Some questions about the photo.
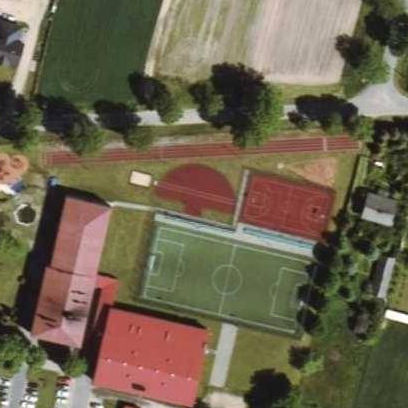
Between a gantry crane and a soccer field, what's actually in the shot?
soccer field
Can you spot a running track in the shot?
Yes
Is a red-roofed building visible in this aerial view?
Yes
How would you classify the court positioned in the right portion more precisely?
basketball court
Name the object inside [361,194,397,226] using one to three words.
house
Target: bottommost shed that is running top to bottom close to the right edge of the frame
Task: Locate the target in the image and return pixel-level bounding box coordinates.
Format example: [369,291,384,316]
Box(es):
[377,258,395,300]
